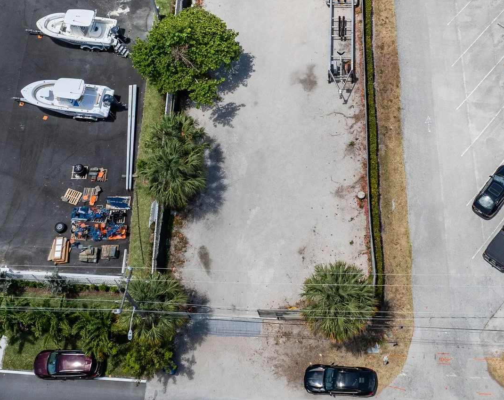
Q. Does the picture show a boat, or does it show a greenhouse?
boat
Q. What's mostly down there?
paved ground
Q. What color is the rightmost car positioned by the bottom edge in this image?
black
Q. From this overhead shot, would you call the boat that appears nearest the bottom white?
Yes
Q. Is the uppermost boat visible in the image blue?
No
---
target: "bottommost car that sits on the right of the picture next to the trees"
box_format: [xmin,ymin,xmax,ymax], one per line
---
[304,361,377,400]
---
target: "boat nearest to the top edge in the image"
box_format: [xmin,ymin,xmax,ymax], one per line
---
[37,10,124,49]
